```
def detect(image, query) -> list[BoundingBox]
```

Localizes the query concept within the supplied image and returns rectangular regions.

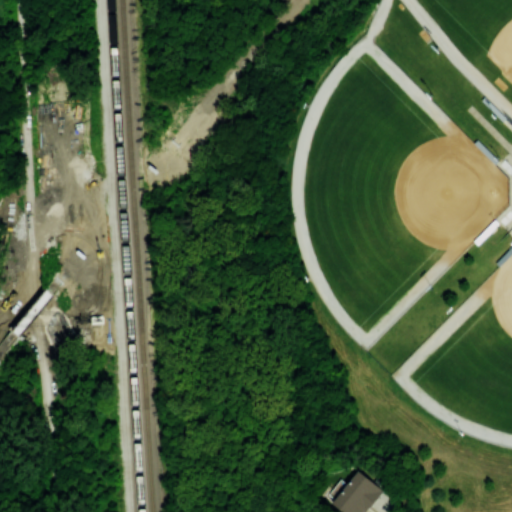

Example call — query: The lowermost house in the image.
[326,472,384,512]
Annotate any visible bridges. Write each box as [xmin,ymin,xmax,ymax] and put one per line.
[0,284,60,362]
